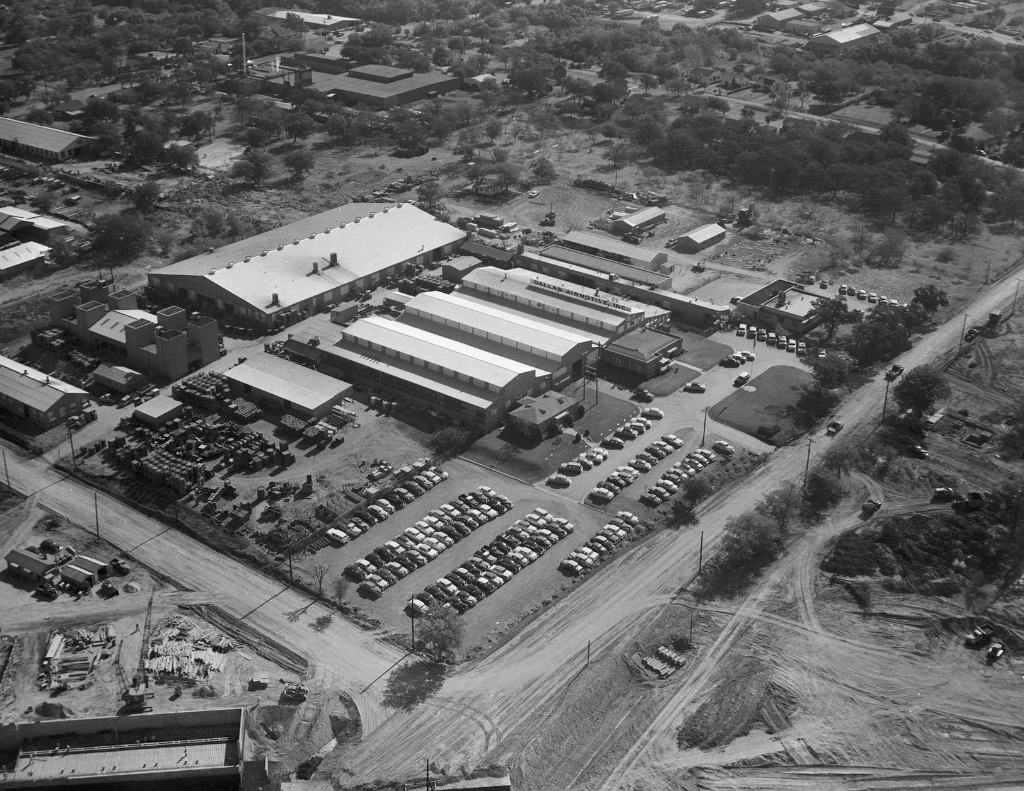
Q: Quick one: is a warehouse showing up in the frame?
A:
Yes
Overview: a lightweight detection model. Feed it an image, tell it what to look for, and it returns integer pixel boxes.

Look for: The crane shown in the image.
[120,581,164,711]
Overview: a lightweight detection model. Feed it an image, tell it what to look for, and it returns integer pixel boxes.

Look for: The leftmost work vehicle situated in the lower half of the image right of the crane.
[278,681,306,705]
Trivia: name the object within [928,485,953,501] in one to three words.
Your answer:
vehicle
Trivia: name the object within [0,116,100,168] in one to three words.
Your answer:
building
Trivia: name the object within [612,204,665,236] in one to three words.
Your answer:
barn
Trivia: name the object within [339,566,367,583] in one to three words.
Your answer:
car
